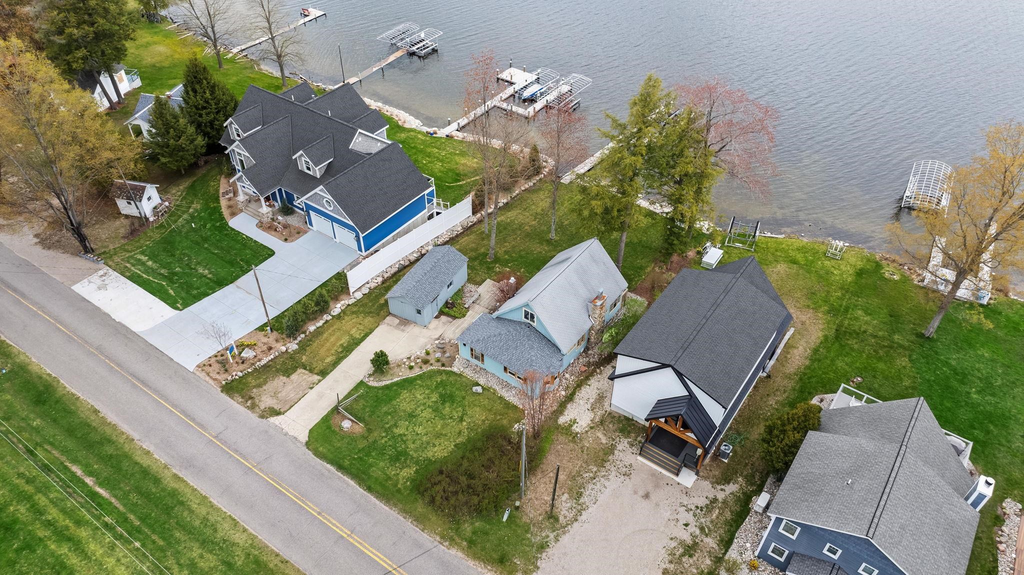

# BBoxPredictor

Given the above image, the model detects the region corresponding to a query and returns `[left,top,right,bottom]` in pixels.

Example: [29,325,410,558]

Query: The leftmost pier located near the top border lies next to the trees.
[228,5,327,57]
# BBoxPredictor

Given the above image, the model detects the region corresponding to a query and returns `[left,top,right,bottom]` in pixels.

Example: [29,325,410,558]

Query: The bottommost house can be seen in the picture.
[755,384,999,575]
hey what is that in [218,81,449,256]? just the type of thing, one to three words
house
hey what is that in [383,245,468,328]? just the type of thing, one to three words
shed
